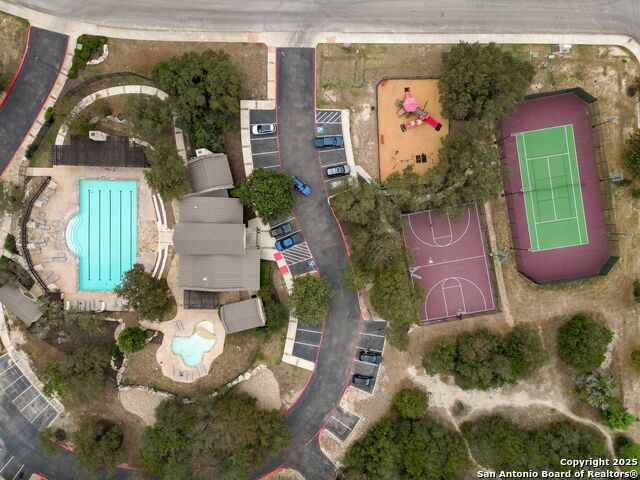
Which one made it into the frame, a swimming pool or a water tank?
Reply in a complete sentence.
The image shows a swimming pool.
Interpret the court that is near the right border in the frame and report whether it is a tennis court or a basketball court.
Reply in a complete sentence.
The court that is near the right border appears to be a tennis court.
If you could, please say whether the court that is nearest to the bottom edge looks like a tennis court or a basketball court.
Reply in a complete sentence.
In the photo, the court that is nearest to the bottom edge shows up as a basketball court.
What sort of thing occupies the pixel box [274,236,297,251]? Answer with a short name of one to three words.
car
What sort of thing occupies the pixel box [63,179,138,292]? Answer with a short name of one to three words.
swimming pool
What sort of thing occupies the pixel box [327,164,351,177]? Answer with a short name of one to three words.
vehicle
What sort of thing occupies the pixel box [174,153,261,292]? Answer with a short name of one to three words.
building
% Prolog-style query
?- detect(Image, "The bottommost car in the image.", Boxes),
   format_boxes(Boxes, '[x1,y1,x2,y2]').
[352,374,375,387]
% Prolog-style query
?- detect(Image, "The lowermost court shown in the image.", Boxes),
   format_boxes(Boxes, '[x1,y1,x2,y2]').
[399,202,499,324]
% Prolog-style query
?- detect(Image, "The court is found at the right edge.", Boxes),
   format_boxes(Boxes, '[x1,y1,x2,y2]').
[499,92,611,283]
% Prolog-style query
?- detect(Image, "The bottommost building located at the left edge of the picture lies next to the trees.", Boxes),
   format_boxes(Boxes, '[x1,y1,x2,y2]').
[0,282,46,328]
